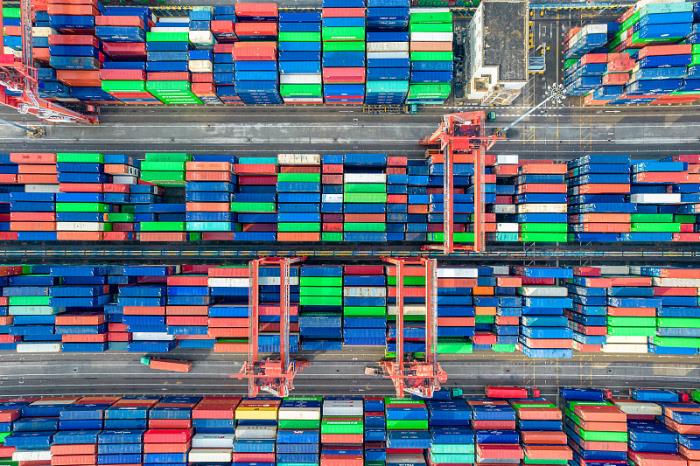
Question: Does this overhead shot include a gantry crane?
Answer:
Yes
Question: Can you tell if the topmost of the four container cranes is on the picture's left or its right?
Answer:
left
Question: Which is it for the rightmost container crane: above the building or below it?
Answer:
below it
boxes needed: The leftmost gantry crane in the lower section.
[230,258,313,400]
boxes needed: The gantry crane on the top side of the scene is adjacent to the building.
[414,103,497,251]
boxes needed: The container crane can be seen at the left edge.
[0,0,96,126]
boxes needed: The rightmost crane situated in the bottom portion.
[372,258,446,400]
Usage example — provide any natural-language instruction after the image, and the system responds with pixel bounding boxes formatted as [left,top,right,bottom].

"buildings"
[468,1,528,105]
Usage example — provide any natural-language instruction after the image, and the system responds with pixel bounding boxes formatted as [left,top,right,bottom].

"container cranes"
[372,258,446,400]
[414,103,497,251]
[230,258,313,400]
[0,0,96,126]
